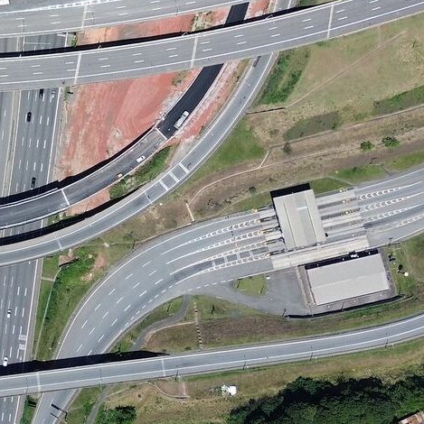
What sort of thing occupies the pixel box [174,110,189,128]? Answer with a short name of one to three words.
vehicle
